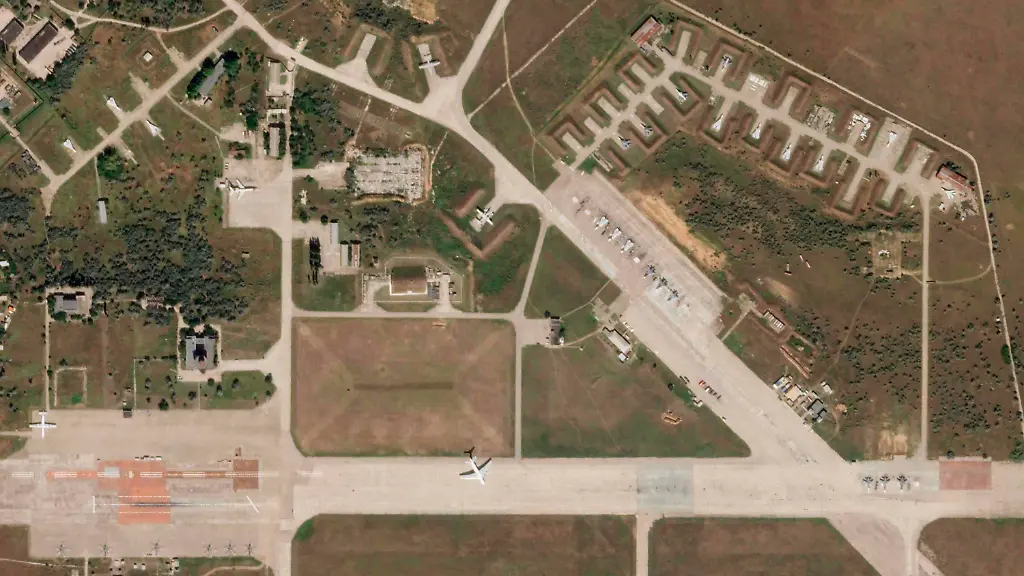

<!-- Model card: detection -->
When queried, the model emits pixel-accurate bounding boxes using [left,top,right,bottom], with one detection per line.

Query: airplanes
[622,238,633,251]
[148,124,161,137]
[644,263,655,278]
[888,131,897,146]
[782,146,791,161]
[880,476,891,490]
[863,476,874,491]
[29,413,56,437]
[751,124,760,139]
[897,476,908,491]
[107,97,120,111]
[620,139,632,152]
[598,214,608,228]
[676,89,688,103]
[419,56,439,72]
[668,288,679,301]
[474,212,490,227]
[610,226,622,240]
[712,116,722,131]
[814,157,823,172]
[656,275,667,289]
[943,188,956,201]
[227,180,253,200]
[641,125,653,138]
[61,139,74,153]
[460,457,492,486]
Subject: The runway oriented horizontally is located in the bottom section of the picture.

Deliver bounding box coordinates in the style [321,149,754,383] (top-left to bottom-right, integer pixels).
[290,457,1024,518]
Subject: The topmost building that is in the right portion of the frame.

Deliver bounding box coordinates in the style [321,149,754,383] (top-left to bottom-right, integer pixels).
[631,17,662,48]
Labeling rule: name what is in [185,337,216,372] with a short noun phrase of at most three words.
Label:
building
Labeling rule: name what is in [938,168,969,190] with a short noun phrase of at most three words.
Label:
hangar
